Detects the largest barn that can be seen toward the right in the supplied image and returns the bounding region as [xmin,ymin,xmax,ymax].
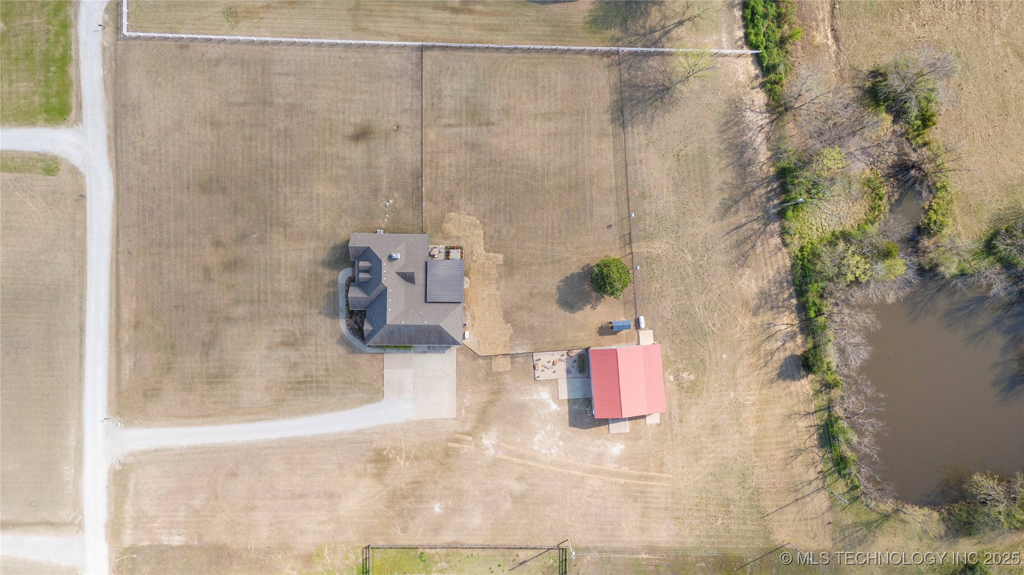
[589,344,665,419]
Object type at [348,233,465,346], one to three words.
house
